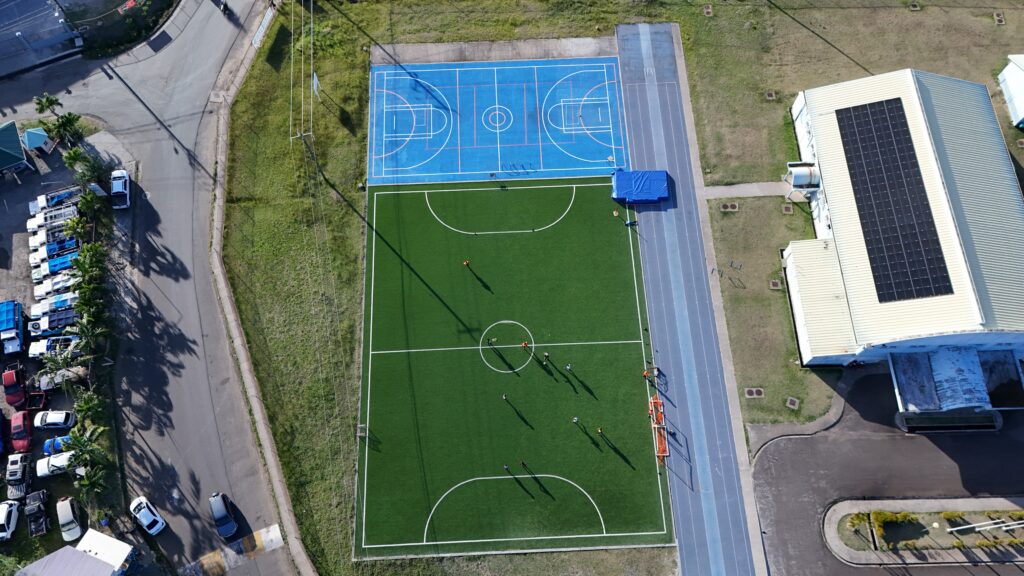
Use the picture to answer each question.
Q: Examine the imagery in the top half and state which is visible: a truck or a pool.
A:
truck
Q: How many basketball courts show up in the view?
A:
1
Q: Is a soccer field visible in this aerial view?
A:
Yes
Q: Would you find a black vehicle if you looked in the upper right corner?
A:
No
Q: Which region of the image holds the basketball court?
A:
top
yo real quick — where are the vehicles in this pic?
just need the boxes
[38,449,75,475]
[27,200,83,235]
[29,334,82,361]
[20,486,54,542]
[30,237,84,269]
[0,296,30,360]
[208,490,239,539]
[34,410,79,430]
[55,494,86,545]
[44,434,73,456]
[29,223,69,251]
[29,182,90,219]
[28,307,84,338]
[1,365,31,408]
[0,410,12,453]
[31,251,84,285]
[131,493,166,537]
[4,451,34,500]
[109,169,133,212]
[34,269,85,300]
[31,290,84,320]
[9,410,35,453]
[0,499,24,542]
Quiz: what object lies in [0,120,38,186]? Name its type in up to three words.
building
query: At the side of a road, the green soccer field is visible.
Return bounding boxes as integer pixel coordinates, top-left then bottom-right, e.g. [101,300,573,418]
[351,177,678,560]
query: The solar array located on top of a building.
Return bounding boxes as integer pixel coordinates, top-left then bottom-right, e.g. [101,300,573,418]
[819,99,955,303]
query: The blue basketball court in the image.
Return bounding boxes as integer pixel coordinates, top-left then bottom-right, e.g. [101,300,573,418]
[366,36,633,186]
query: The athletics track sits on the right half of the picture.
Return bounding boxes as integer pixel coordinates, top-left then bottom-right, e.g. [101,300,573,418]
[615,22,771,576]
